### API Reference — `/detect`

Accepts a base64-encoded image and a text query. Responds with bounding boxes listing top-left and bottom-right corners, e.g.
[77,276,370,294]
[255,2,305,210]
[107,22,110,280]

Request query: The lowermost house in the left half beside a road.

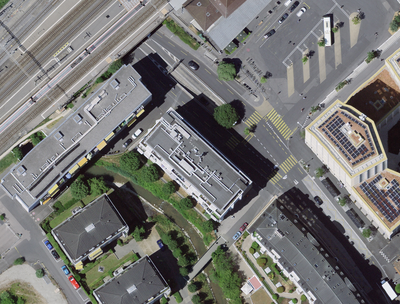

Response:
[92,255,170,304]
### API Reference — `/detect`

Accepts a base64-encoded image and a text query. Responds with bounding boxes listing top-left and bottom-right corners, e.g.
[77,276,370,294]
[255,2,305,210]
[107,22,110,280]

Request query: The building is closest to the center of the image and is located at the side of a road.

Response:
[143,107,252,219]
